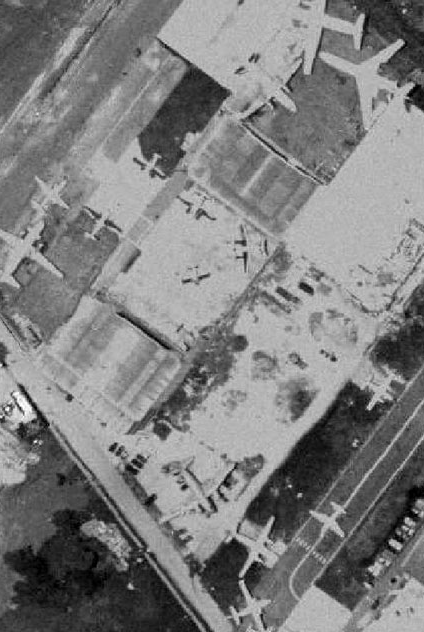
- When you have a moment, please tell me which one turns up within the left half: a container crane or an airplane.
airplane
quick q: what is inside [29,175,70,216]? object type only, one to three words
airplane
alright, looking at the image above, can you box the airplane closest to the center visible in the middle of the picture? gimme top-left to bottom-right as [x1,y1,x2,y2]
[181,265,211,286]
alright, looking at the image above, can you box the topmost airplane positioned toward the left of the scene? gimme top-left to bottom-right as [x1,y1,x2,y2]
[133,152,167,180]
